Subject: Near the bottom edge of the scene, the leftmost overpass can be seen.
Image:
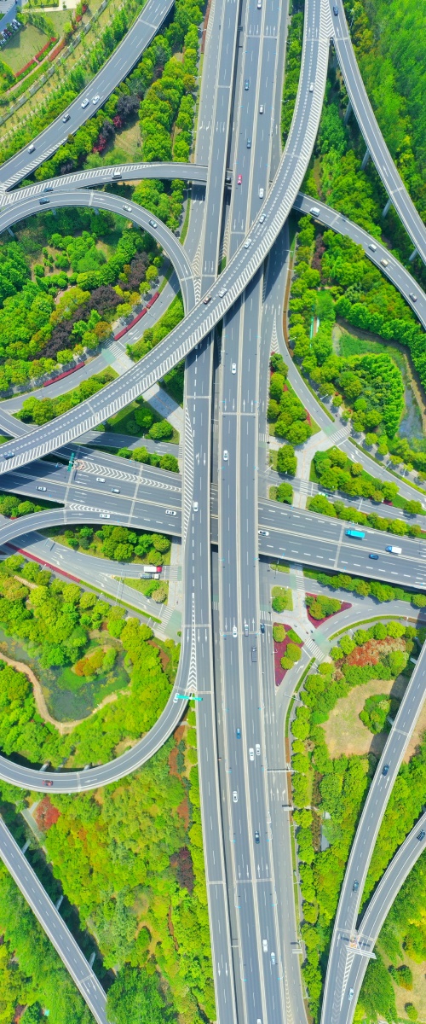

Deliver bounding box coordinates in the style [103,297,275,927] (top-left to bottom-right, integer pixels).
[0,817,126,1024]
